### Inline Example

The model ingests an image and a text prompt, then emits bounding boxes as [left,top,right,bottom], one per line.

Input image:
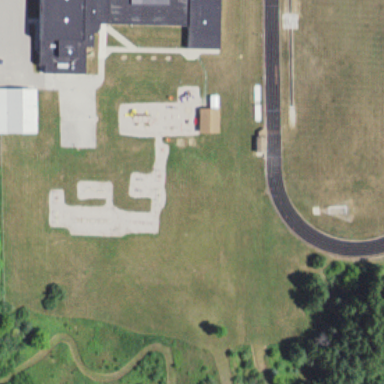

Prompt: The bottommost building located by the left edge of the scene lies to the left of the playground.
[0,88,38,134]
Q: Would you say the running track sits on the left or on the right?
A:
right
